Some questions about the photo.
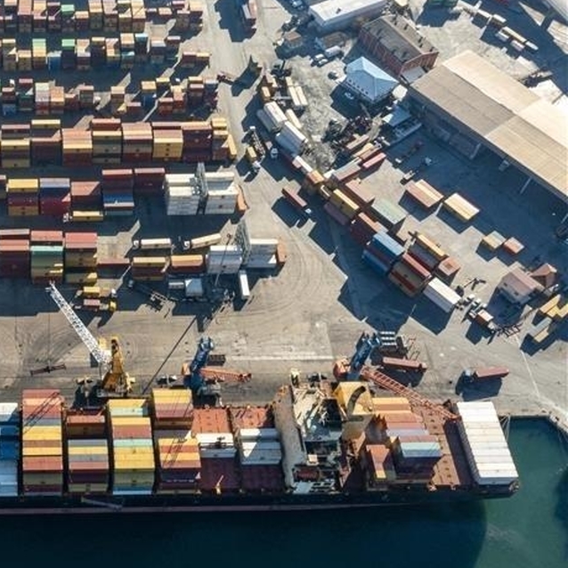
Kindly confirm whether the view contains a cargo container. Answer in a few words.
Yes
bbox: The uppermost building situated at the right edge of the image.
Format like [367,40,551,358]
[411,58,568,216]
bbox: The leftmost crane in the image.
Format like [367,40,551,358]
[44,279,137,410]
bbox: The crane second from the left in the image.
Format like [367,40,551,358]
[180,335,257,417]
